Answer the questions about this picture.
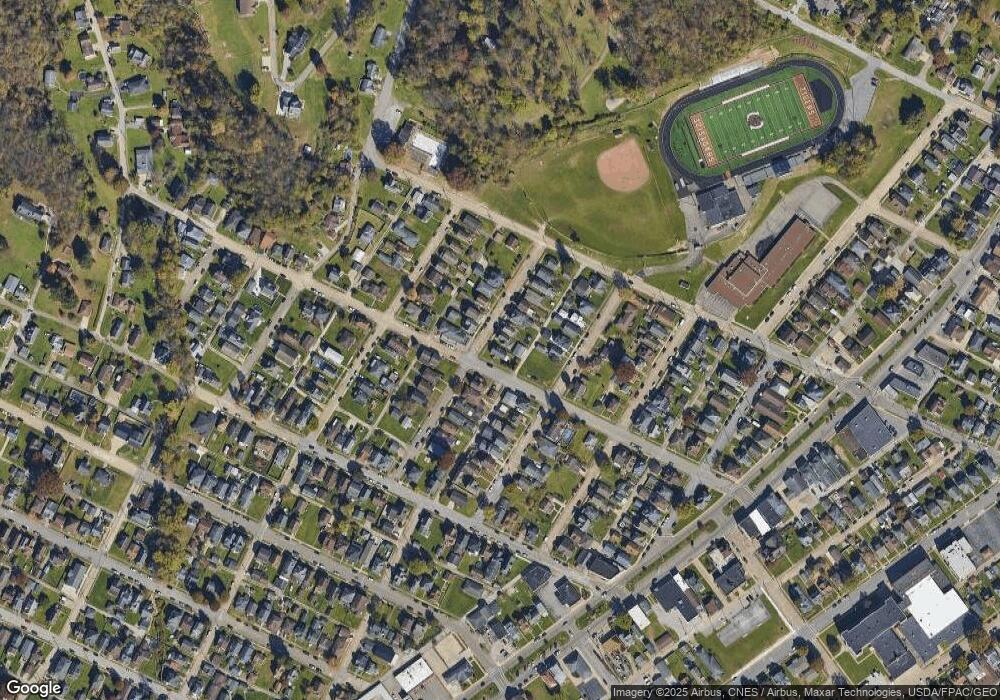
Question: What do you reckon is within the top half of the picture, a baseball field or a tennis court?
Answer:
baseball field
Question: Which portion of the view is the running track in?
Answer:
top right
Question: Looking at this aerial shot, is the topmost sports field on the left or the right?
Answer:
right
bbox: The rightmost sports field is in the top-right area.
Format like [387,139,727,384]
[676,72,835,175]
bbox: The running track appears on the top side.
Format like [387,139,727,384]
[666,62,845,198]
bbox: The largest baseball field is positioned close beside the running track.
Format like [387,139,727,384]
[512,136,687,257]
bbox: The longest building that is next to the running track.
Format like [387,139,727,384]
[706,217,815,309]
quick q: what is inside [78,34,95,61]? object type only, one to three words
house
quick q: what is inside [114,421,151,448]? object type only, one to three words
building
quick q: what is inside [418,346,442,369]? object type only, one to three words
house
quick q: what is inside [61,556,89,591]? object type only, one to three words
building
